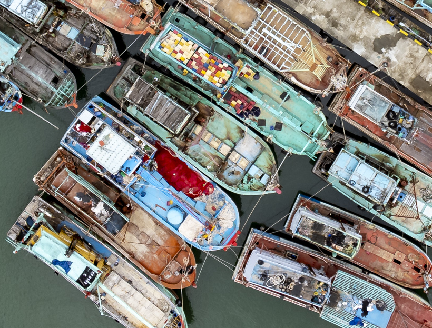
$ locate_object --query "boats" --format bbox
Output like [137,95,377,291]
[231,229,432,328]
[5,197,188,328]
[0,15,80,113]
[141,5,332,160]
[73,0,164,35]
[34,146,198,289]
[0,69,59,129]
[313,134,432,247]
[0,0,119,70]
[283,194,432,289]
[174,0,352,94]
[106,57,281,195]
[328,63,432,177]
